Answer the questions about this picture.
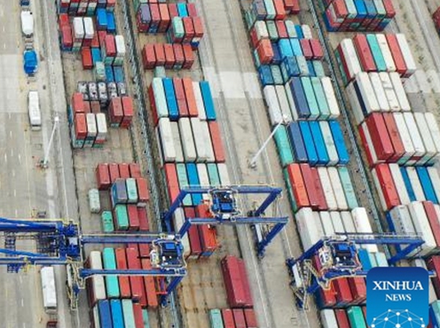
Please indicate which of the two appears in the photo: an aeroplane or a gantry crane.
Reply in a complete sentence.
There is a gantry crane in the scene.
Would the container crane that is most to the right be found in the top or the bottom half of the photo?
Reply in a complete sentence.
The container crane that is most to the right is in the bottom half of the image.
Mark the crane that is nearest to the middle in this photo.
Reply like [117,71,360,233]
[159,183,290,254]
